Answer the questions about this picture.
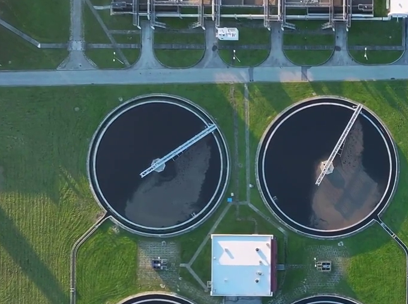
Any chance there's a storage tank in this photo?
Yes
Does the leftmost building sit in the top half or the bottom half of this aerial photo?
bottom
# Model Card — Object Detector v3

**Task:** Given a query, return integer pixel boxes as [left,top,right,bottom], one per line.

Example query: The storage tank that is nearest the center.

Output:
[87,93,234,239]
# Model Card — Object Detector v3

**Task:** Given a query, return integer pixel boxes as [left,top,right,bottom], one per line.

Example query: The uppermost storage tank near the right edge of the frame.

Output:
[254,95,400,241]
